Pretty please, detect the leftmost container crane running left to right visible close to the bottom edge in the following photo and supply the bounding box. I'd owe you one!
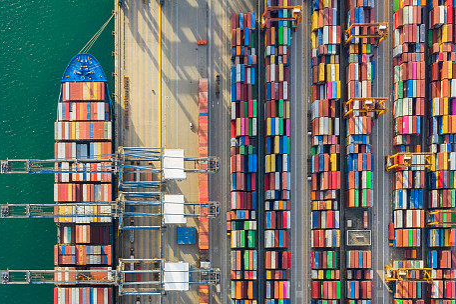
[0,258,221,293]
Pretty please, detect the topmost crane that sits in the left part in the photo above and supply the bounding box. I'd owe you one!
[0,148,222,195]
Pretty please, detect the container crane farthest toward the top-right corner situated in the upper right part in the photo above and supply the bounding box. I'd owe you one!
[340,23,389,49]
